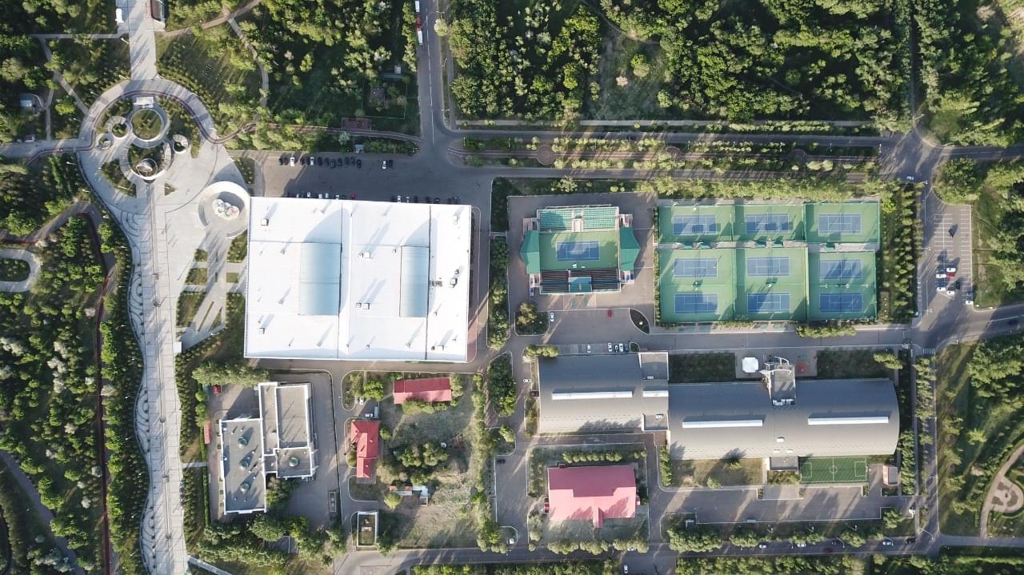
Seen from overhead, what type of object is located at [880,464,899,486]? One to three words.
building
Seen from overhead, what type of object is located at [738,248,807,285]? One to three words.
tennis court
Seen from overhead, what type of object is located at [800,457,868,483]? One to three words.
soccer field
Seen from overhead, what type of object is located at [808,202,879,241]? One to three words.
tennis court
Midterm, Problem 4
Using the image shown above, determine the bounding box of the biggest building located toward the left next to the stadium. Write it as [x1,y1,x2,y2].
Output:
[245,196,472,363]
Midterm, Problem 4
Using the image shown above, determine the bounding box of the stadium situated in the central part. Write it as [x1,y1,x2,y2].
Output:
[520,205,640,296]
